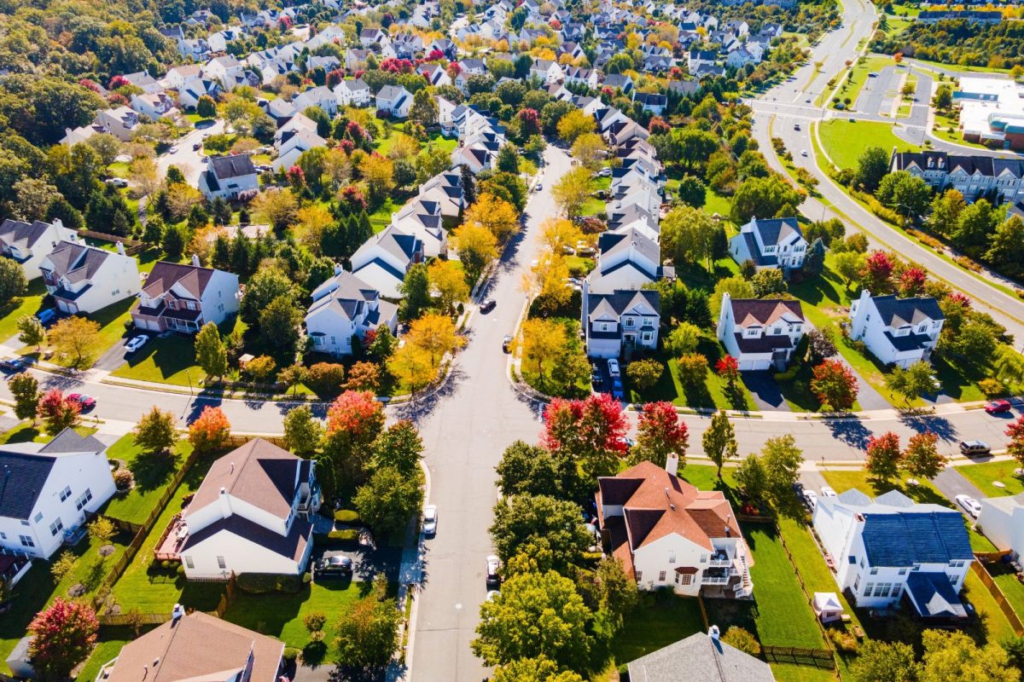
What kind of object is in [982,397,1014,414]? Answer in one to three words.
car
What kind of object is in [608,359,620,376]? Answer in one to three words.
vehicle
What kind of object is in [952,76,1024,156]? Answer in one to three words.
building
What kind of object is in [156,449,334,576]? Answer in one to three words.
house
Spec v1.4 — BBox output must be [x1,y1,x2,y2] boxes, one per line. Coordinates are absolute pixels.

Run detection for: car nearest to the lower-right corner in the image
[954,493,984,519]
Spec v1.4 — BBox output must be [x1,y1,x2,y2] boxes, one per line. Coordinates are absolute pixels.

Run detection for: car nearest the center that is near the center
[501,336,513,351]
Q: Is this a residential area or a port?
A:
residential area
